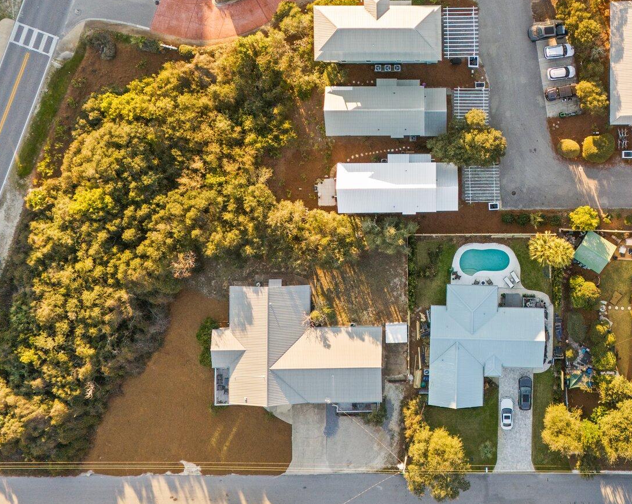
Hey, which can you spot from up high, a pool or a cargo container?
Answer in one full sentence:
Visible in the photo is a pool.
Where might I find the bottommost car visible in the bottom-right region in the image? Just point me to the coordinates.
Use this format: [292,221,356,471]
[499,396,514,430]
